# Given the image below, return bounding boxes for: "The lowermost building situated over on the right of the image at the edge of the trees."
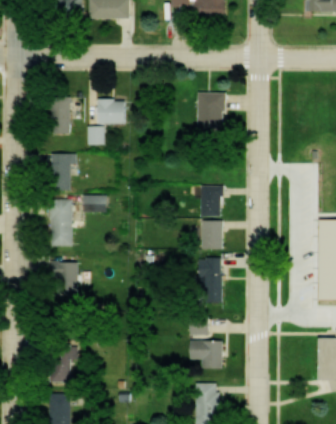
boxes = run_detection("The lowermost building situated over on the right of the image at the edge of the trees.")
[195,384,219,424]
